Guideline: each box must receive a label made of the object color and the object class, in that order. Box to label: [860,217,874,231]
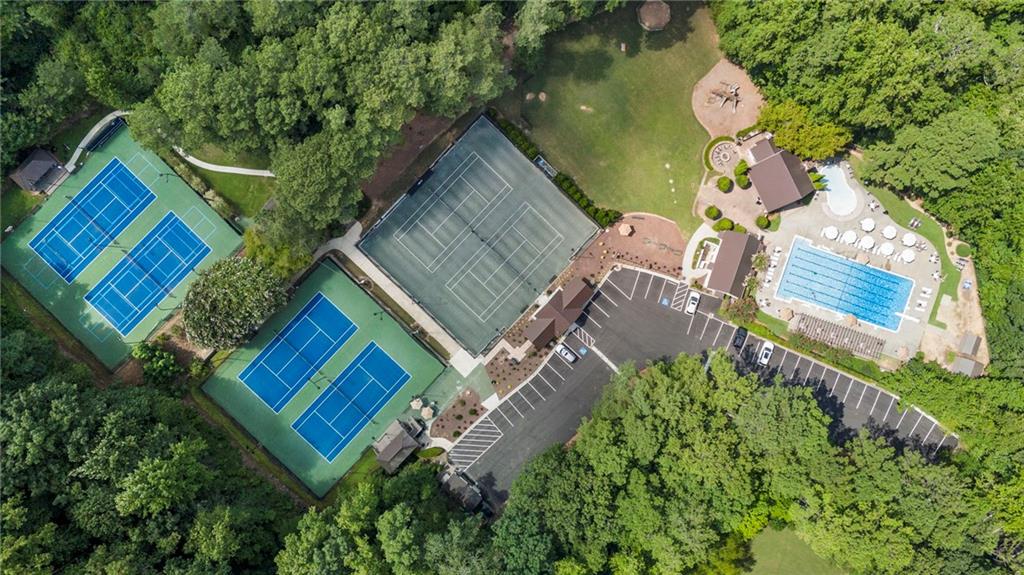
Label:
white umbrella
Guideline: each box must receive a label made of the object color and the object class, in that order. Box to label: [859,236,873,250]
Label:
white umbrella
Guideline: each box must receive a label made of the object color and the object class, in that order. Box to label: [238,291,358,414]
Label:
blue tennis court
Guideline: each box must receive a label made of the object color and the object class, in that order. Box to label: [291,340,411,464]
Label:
blue tennis court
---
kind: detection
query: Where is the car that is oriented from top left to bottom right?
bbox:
[555,344,577,365]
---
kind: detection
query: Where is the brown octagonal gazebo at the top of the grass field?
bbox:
[637,0,669,34]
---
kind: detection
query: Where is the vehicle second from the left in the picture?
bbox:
[685,291,699,315]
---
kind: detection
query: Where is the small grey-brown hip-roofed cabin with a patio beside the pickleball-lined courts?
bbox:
[9,145,61,194]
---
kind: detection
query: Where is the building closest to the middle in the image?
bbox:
[522,274,599,353]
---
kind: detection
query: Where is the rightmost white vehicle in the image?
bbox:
[757,341,773,366]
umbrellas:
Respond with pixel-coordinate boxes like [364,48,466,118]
[422,407,434,420]
[619,223,633,236]
[901,234,915,247]
[879,242,893,256]
[859,236,873,250]
[842,230,856,244]
[824,226,838,240]
[844,315,856,325]
[900,249,914,263]
[779,308,792,321]
[860,217,874,231]
[882,226,896,239]
[856,253,868,265]
[410,397,422,410]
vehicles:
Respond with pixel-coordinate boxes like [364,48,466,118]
[757,341,773,366]
[732,326,747,350]
[555,344,577,365]
[685,291,699,315]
